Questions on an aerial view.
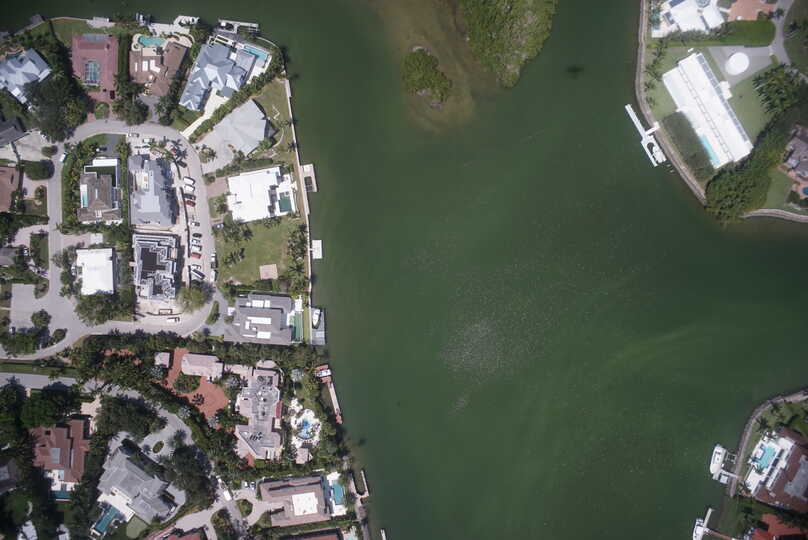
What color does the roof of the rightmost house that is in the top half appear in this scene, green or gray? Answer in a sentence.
The roof of the rightmost house that is in the top half looks gray in the image.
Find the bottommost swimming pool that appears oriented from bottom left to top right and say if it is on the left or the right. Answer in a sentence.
You can find the bottommost swimming pool that appears oriented from bottom left to top right on the left side of the picture.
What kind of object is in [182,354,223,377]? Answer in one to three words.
building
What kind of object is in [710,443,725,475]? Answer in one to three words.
boat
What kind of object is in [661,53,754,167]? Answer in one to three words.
house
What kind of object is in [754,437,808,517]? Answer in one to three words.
house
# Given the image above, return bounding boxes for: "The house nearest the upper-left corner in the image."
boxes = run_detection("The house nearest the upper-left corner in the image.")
[0,47,51,106]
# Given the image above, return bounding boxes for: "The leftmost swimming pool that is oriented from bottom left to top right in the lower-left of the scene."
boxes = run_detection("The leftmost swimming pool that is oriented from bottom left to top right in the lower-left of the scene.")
[94,506,118,534]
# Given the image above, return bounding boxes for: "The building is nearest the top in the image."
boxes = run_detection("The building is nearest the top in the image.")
[661,0,729,44]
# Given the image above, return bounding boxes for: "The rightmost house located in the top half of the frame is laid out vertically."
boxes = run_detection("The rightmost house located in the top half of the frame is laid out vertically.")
[779,126,808,186]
